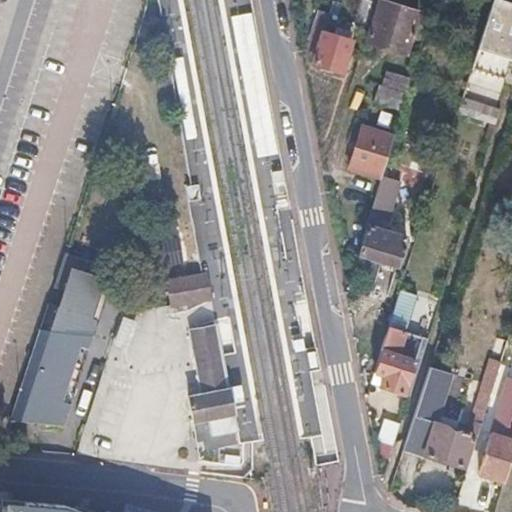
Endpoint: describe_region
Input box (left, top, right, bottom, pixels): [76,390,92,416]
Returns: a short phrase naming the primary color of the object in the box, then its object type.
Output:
white vehicle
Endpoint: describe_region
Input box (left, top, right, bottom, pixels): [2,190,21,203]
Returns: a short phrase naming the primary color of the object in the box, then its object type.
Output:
red vehicle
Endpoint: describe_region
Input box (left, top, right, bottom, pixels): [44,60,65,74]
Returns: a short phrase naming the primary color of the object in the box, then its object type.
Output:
white vehicle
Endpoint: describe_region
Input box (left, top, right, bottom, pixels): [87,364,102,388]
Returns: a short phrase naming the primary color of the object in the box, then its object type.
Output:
gray car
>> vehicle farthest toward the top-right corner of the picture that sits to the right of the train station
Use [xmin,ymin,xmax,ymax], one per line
[350,88,364,111]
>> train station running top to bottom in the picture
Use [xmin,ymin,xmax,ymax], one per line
[161,0,321,443]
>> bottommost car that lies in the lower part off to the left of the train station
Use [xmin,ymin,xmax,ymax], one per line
[93,436,114,450]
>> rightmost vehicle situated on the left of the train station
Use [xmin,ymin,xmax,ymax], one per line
[147,148,160,176]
